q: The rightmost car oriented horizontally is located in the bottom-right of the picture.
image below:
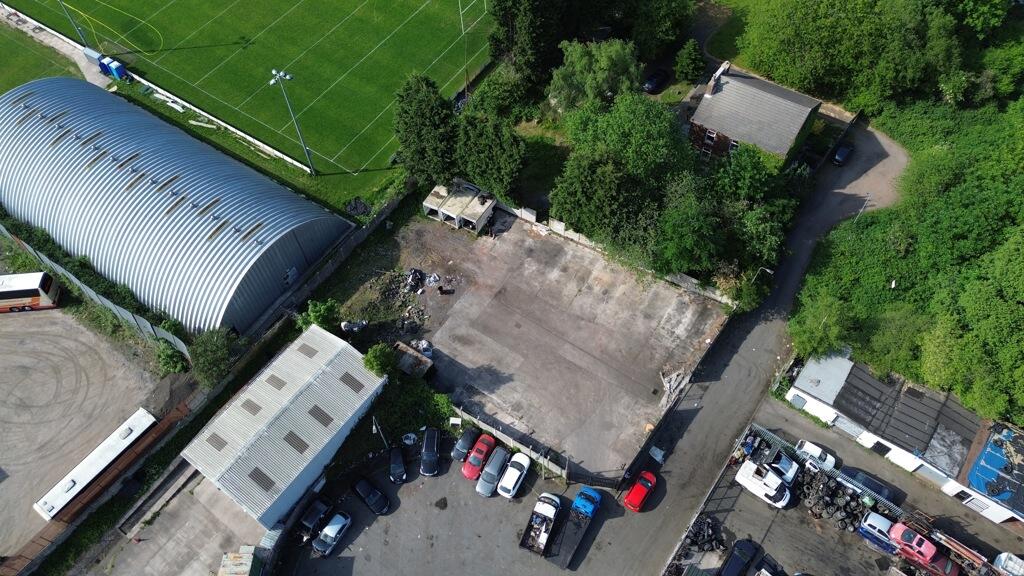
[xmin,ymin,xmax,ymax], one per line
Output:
[914,556,963,576]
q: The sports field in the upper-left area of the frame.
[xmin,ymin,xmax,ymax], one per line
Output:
[0,0,534,214]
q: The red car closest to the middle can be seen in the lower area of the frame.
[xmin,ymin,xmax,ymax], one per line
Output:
[464,435,494,478]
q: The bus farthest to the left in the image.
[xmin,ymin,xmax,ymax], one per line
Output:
[0,272,56,307]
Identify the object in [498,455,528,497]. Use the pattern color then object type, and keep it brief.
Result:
white car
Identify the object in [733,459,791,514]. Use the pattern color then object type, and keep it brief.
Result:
white van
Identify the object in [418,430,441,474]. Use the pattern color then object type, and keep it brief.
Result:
black car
